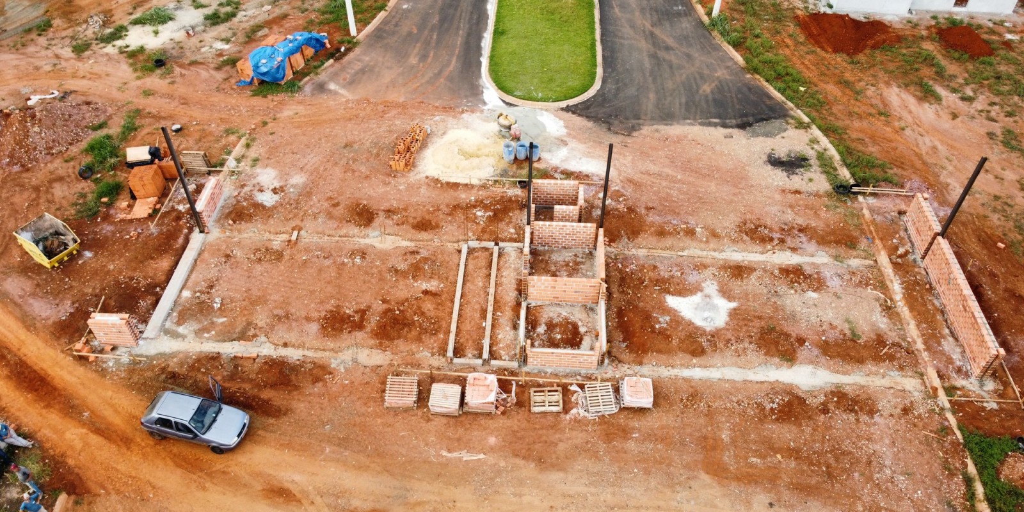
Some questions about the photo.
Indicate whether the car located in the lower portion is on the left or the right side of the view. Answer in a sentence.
You can find the car located in the lower portion on the left side of the picture.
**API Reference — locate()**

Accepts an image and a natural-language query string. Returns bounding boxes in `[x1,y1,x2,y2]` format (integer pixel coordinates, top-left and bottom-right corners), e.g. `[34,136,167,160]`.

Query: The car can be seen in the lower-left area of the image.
[142,382,248,454]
